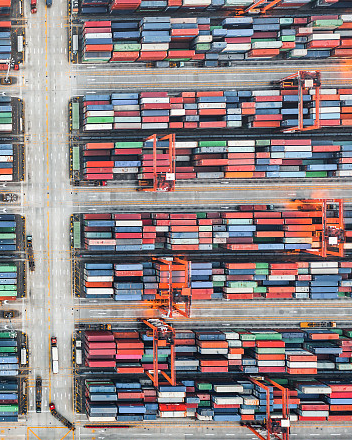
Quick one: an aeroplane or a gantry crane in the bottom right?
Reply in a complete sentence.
It is a gantry crane that can be seen in the bottom right.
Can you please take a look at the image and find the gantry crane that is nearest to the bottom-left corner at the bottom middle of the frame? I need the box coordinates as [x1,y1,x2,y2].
[137,320,175,388]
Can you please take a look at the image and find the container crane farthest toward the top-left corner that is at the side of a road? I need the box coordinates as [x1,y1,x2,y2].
[135,134,176,194]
